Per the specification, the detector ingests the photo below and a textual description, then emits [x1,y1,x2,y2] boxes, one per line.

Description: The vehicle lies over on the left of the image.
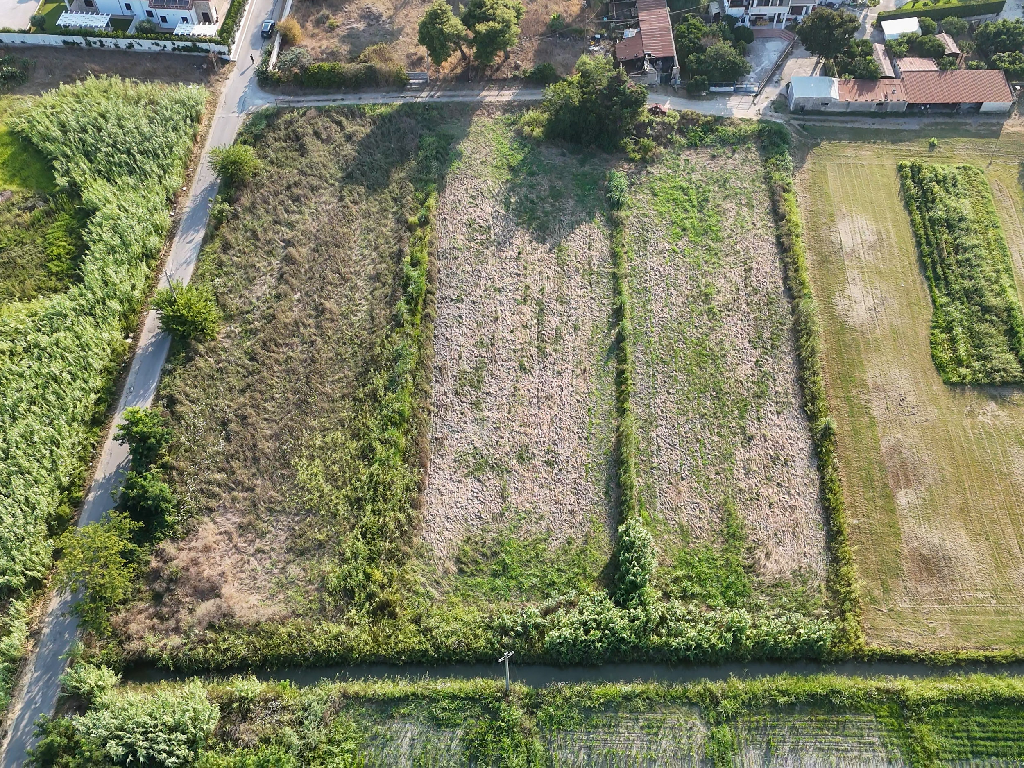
[260,13,278,35]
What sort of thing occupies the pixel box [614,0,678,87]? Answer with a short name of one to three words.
shed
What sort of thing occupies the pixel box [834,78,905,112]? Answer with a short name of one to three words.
shed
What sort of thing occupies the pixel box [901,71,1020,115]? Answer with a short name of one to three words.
barn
